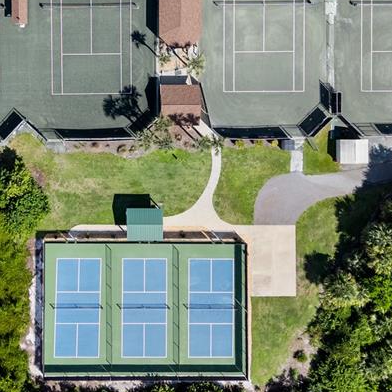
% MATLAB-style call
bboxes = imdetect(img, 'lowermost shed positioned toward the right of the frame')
[334,140,368,164]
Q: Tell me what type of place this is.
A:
sports ground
